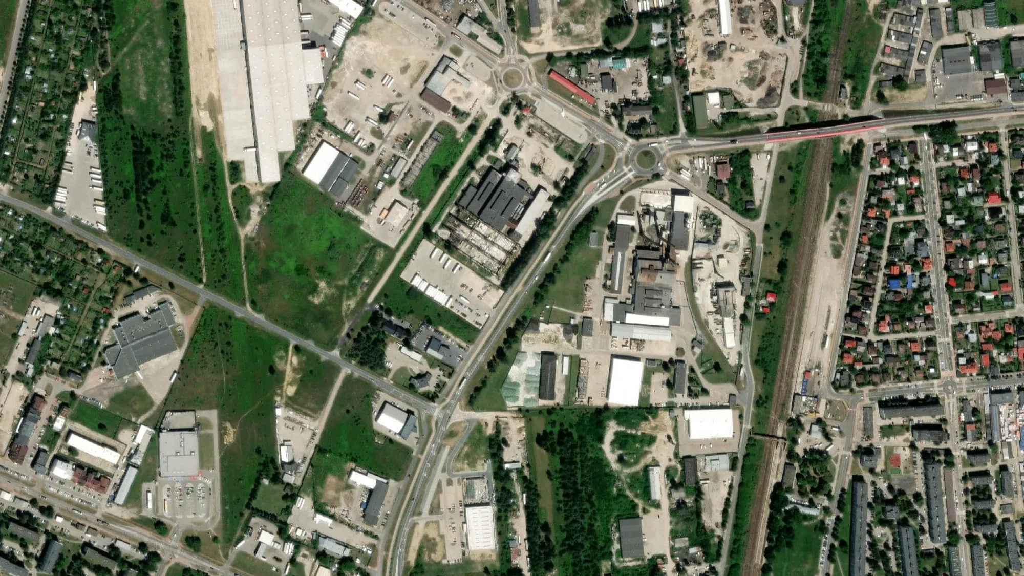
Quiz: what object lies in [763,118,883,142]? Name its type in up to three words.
bridge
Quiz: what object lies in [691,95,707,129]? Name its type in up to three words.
shed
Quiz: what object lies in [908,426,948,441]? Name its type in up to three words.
building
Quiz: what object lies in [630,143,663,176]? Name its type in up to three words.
roundabout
